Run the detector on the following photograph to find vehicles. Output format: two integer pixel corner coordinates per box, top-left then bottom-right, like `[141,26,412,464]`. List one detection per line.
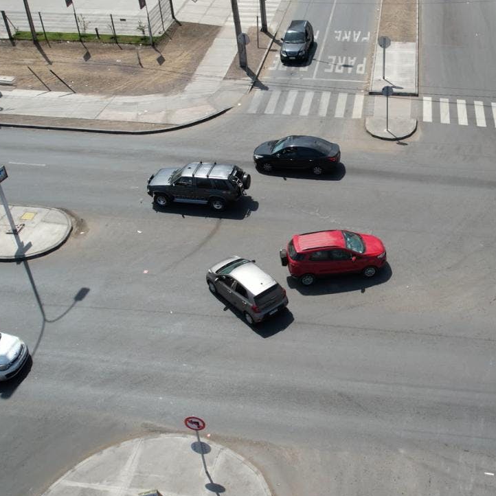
[138,157,247,213]
[206,254,293,327]
[0,322,28,379]
[280,21,316,58]
[279,225,385,286]
[251,133,341,175]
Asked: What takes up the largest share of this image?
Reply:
paved ground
